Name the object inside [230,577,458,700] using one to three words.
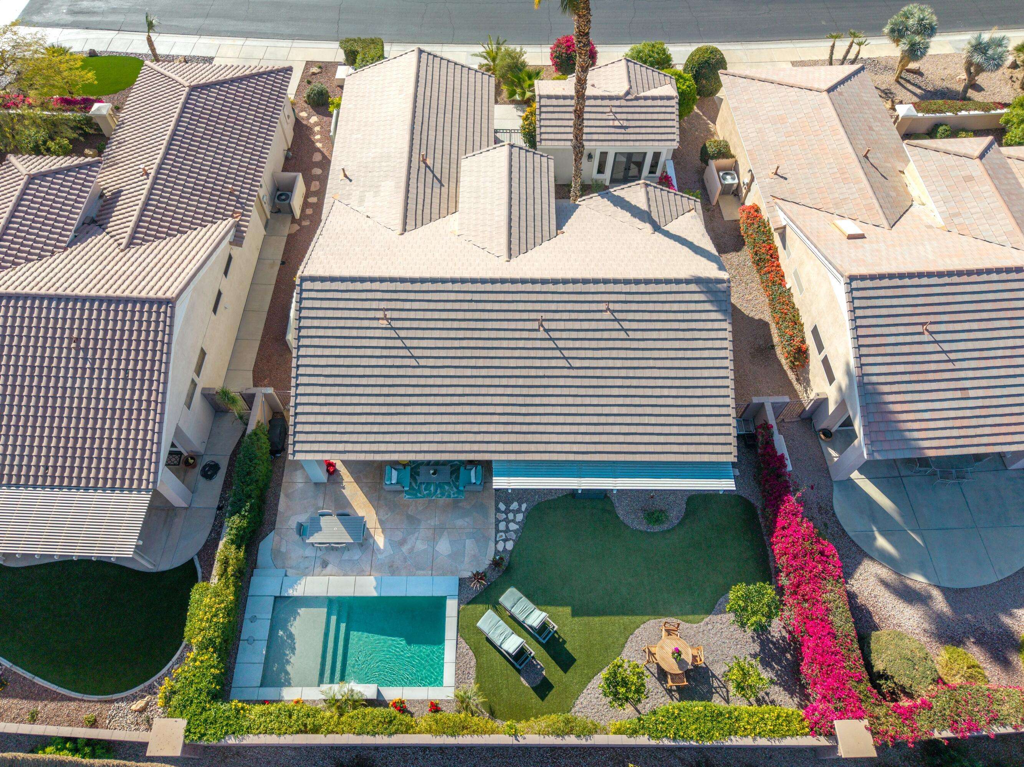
swimming pool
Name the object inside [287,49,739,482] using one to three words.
house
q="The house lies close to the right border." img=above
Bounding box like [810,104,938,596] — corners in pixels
[717,61,1024,480]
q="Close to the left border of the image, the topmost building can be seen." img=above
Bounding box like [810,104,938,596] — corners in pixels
[0,58,301,508]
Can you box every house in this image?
[717,61,1024,480]
[287,49,739,482]
[0,58,301,508]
